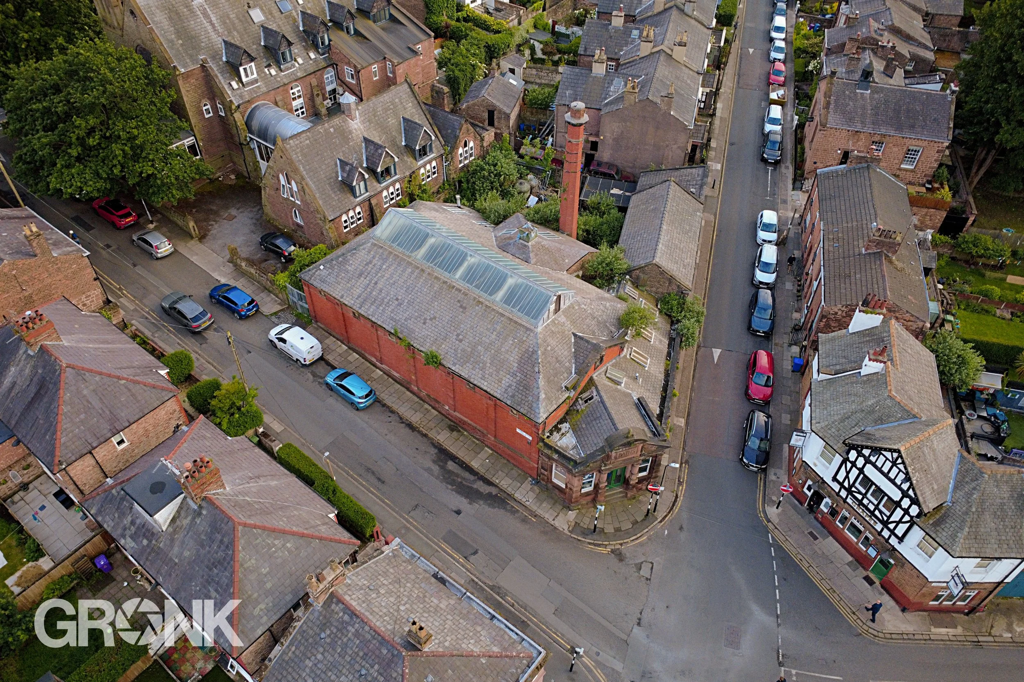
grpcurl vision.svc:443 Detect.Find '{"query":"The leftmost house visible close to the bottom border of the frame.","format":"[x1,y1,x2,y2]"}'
[76,414,361,682]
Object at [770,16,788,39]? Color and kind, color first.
white car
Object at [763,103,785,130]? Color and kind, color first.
white car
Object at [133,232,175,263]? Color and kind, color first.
gray car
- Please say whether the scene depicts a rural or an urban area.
urban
